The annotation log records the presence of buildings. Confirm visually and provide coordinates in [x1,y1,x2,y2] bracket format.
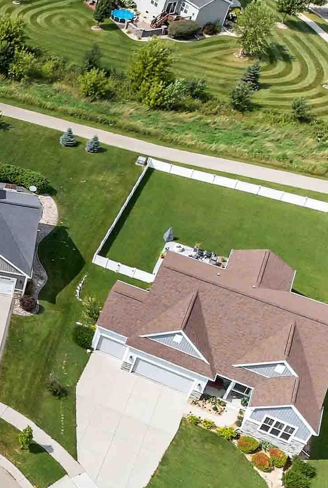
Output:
[134,0,234,26]
[94,243,328,466]
[0,189,46,298]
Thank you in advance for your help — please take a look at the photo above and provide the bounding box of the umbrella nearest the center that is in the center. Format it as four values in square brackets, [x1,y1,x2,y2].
[165,222,177,243]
